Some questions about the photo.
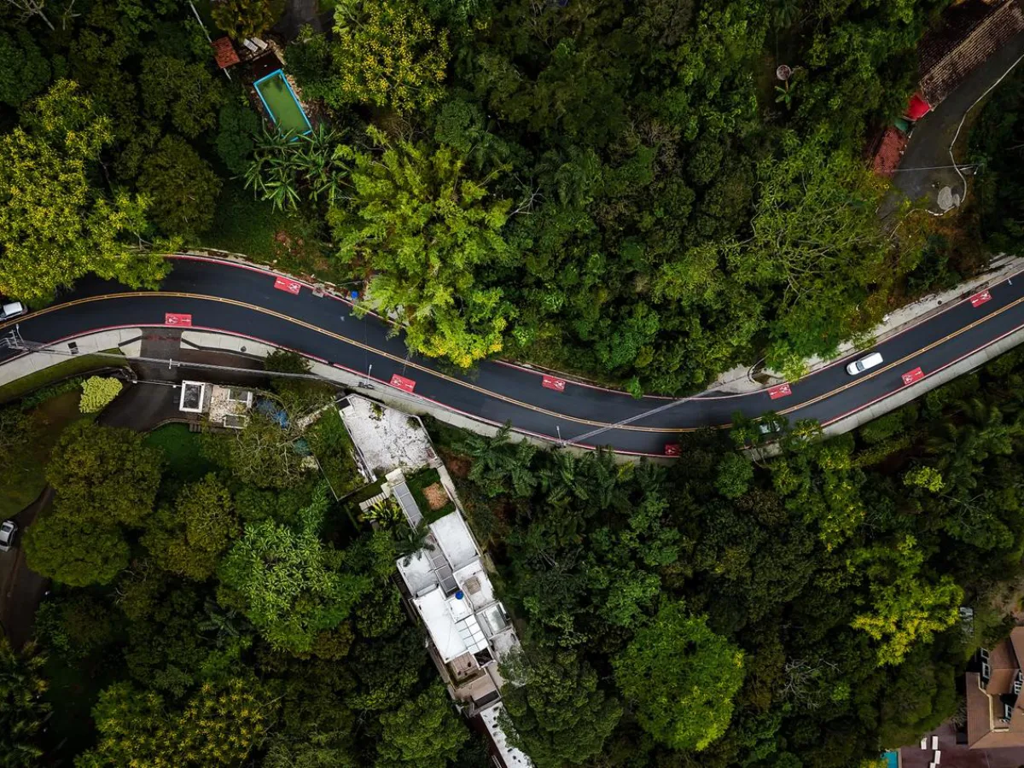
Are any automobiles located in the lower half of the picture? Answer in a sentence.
Yes, an automobile shows up in the lower half of the picture.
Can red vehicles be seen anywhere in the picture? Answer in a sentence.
No, I can see no red vehicle in this picture.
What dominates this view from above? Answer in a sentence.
Most of the picture is covered by trees.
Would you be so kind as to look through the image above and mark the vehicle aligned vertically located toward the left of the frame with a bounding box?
[0,515,20,555]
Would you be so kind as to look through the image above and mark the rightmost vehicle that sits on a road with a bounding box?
[845,349,884,377]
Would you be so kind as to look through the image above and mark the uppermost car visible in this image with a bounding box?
[0,299,27,322]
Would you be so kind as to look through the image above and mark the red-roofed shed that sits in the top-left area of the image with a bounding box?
[215,37,241,69]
